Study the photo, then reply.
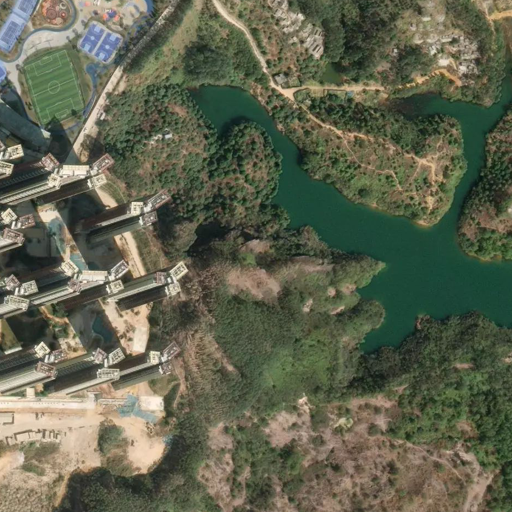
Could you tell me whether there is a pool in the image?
Yes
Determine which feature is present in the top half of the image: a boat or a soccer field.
soccer field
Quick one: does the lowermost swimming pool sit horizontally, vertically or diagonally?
diagonally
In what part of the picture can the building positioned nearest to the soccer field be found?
top left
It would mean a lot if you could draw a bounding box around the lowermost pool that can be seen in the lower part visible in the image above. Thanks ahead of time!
[92,314,113,344]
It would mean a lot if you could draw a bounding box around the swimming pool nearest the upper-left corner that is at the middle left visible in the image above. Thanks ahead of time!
[48,218,64,254]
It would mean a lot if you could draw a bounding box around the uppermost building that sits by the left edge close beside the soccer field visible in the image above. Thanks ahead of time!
[0,100,50,158]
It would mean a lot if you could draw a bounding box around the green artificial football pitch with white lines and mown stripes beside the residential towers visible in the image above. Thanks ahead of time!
[22,46,86,128]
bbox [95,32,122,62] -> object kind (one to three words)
basketball court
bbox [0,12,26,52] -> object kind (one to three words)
tennis court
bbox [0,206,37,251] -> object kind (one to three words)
building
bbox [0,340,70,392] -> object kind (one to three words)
building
